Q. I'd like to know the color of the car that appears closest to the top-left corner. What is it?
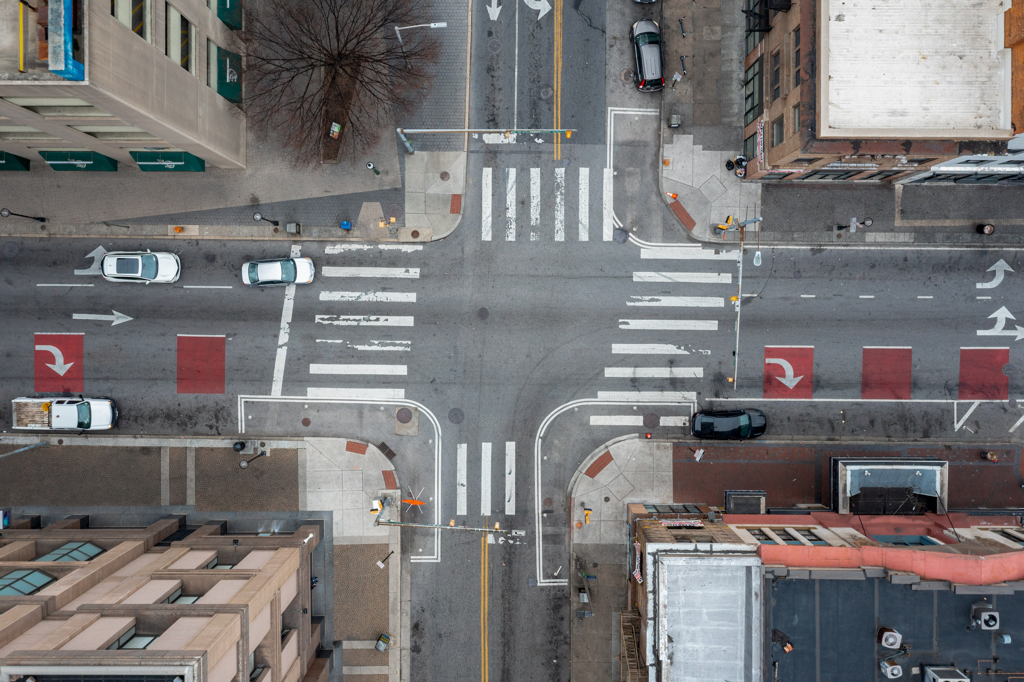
white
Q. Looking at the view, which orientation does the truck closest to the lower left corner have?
from left to right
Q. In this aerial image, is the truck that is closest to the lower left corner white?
Yes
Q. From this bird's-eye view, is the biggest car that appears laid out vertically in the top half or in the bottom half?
top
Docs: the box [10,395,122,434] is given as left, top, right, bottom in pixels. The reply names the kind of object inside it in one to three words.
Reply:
truck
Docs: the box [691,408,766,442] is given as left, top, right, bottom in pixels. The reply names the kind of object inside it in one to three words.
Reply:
car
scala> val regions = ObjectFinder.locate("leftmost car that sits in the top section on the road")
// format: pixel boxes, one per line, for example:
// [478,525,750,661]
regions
[100,250,184,285]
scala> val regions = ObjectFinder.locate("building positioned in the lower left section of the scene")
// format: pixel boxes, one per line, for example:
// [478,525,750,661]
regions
[0,531,310,682]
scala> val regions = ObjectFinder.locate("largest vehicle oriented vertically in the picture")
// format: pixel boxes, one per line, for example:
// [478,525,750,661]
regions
[631,19,665,93]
